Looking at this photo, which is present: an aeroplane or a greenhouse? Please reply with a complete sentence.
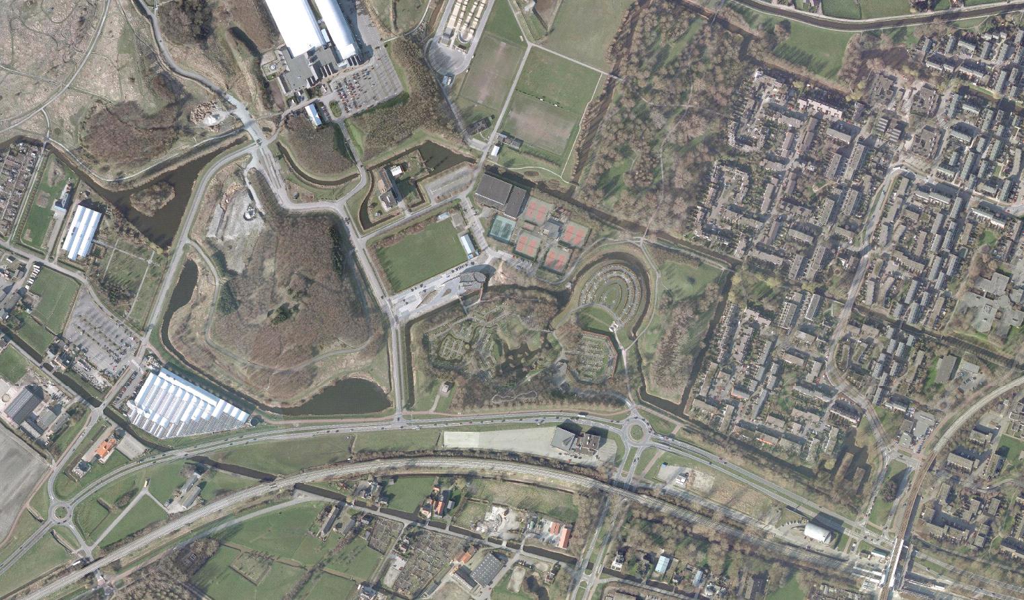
I can see a greenhouse in this picture.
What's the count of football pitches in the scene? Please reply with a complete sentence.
My tally gives 4 football pitches in this view.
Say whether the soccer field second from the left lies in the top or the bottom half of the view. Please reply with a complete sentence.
The soccer field second from the left is in the top half of the image.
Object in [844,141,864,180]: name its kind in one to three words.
house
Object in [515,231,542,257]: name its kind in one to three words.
tennis court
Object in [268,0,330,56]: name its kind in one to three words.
building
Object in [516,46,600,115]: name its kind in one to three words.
soccer field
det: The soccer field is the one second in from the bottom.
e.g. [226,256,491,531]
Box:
[504,93,577,154]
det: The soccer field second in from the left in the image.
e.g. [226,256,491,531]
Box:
[462,33,524,110]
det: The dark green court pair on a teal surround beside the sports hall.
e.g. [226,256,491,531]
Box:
[488,215,516,243]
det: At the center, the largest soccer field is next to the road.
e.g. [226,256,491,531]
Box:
[372,217,475,292]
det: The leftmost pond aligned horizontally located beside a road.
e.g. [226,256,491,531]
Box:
[0,137,251,250]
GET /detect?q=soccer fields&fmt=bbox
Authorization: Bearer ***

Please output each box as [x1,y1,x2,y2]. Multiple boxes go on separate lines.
[504,93,577,154]
[372,217,475,292]
[462,33,524,110]
[516,46,600,115]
